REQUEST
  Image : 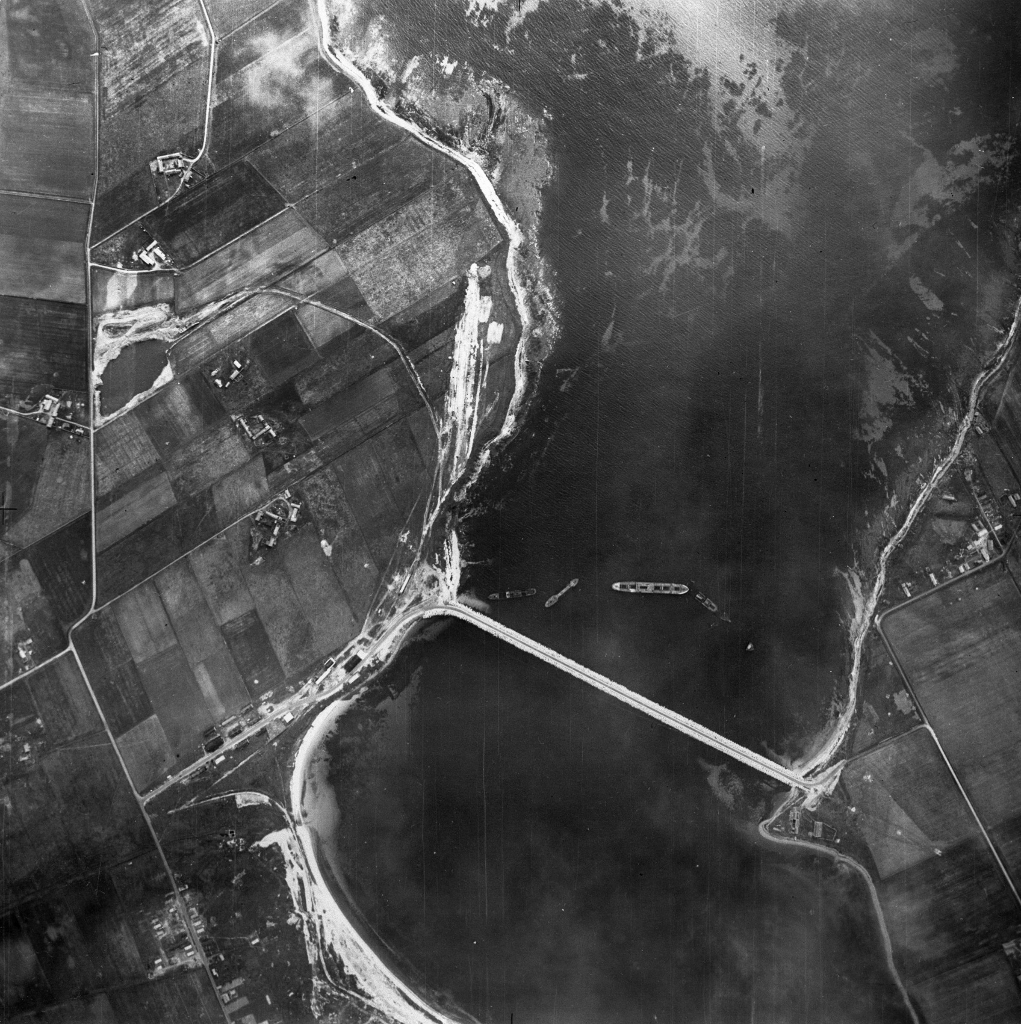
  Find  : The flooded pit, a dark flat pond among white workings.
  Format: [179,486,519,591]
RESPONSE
[96,338,171,416]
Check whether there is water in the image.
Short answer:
Yes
